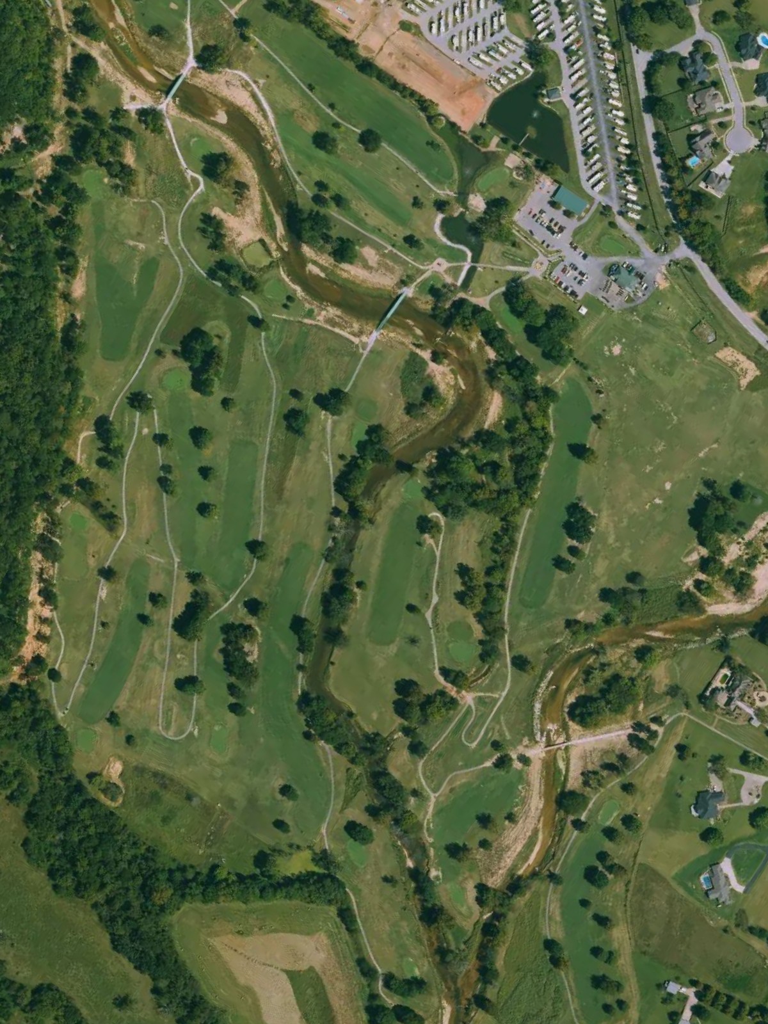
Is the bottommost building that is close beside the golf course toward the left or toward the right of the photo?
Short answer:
right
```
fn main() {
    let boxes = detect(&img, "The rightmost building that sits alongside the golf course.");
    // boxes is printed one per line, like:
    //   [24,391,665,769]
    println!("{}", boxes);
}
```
[617,255,641,291]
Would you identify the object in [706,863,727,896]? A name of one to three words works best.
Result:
house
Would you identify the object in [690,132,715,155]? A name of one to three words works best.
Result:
house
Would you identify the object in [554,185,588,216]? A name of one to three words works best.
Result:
building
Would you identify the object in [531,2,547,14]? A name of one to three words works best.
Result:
vehicle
